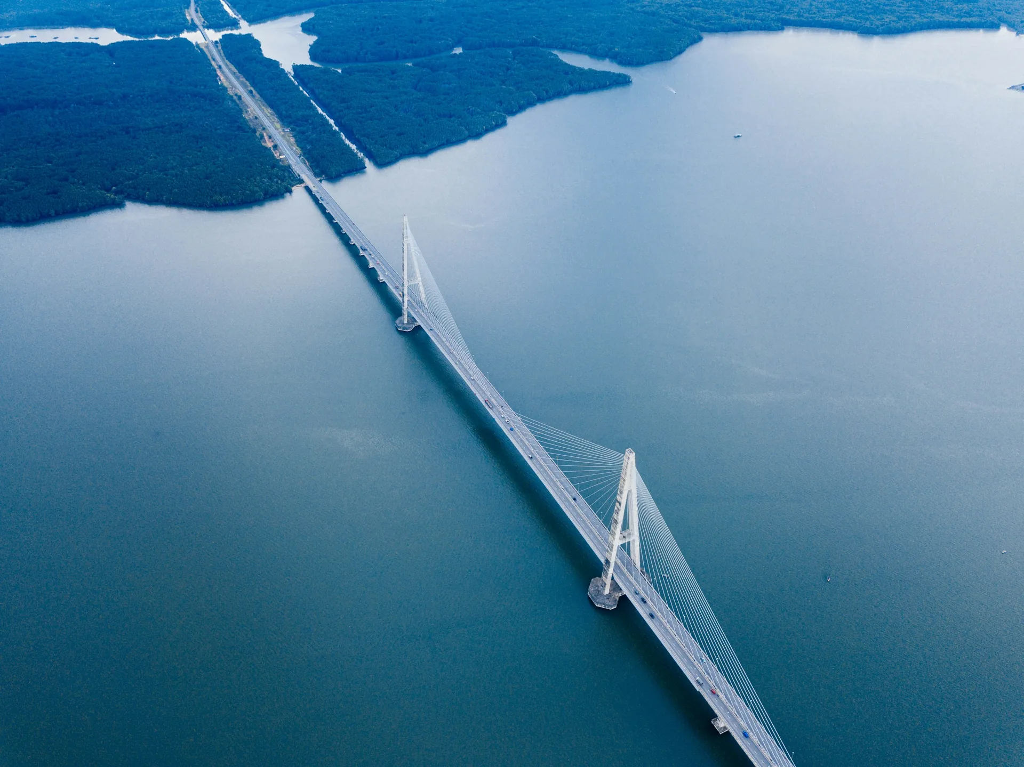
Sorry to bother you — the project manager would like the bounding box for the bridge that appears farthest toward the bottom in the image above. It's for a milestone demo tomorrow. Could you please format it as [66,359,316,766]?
[307,182,795,767]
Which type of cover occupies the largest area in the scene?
water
